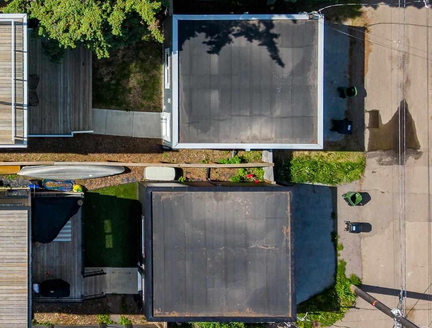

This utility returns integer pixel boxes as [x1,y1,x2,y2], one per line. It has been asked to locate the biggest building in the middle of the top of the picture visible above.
[162,15,328,149]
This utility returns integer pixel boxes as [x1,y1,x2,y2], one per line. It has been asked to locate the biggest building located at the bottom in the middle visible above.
[136,182,297,321]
